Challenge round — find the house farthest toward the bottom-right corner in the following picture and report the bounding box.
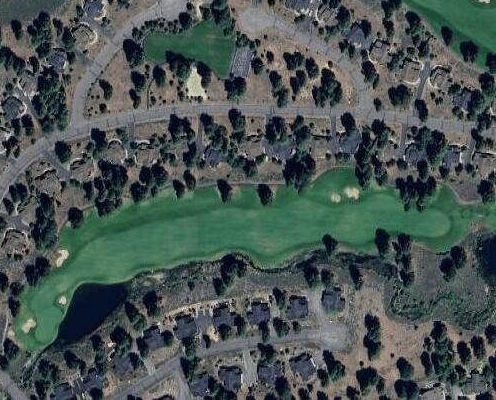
[463,376,489,398]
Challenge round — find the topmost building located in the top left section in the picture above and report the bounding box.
[82,0,107,20]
